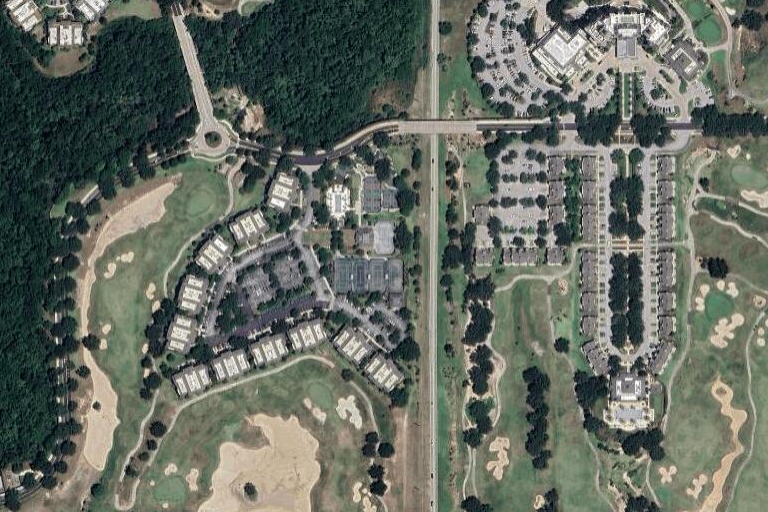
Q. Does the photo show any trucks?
No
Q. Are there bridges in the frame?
Yes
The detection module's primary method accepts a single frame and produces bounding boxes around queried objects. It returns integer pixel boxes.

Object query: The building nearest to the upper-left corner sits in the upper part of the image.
[6,0,41,31]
